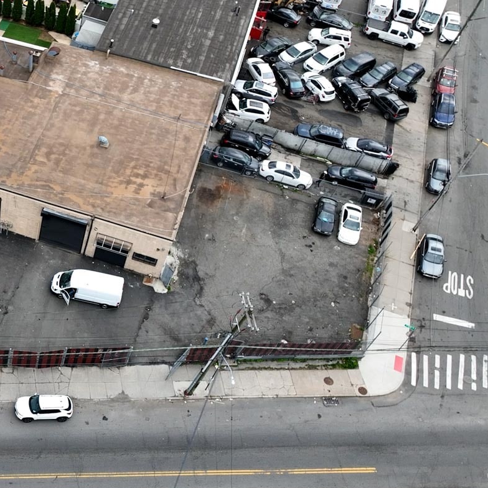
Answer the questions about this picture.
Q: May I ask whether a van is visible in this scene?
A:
Yes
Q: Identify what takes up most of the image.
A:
paved ground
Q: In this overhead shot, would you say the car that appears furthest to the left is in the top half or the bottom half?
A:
bottom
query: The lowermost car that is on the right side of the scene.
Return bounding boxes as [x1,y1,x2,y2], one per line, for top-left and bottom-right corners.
[416,232,448,281]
